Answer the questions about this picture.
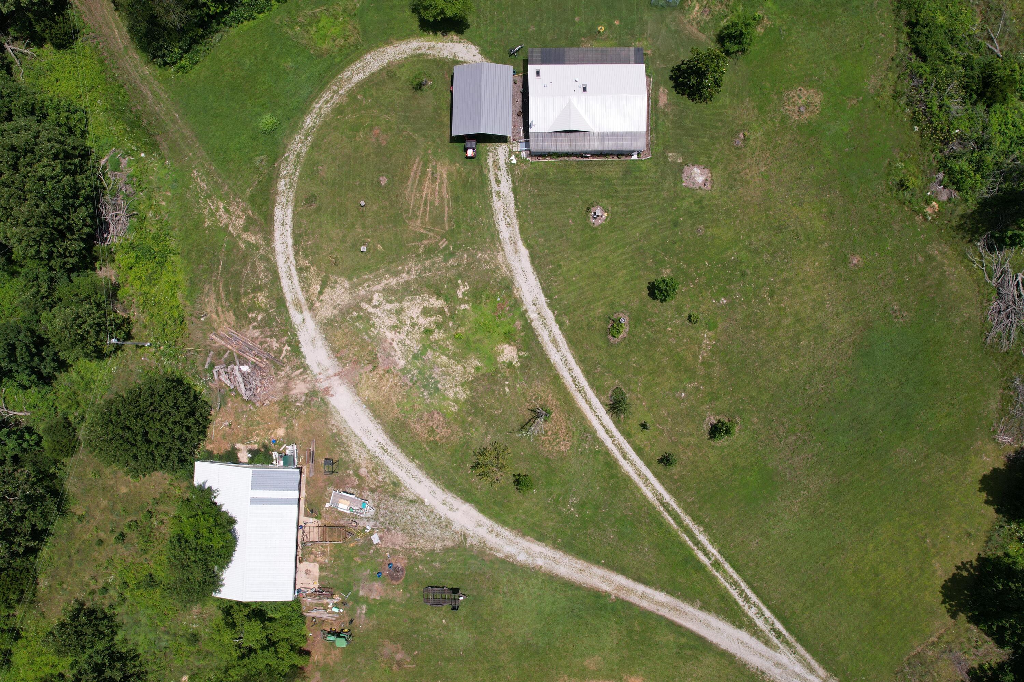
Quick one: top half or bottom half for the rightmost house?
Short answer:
top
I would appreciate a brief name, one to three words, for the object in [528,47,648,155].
house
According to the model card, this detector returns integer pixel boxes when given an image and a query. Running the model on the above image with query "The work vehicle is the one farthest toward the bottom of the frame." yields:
[323,629,355,647]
